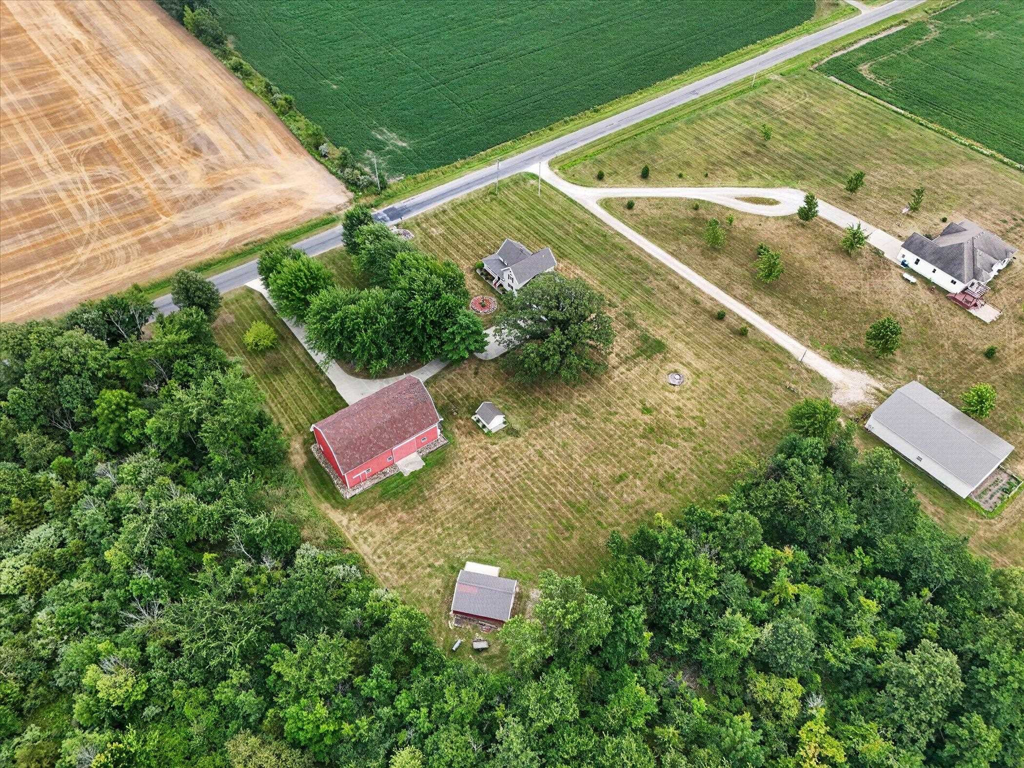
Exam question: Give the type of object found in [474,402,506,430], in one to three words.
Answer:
shed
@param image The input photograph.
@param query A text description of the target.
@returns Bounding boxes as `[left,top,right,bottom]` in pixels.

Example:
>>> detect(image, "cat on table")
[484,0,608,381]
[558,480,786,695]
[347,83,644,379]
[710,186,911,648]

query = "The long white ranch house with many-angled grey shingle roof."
[894,220,1017,292]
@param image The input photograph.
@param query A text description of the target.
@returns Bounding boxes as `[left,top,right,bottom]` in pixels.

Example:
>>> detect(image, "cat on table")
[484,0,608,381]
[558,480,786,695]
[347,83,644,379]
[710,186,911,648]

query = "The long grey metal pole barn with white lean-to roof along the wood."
[860,381,1015,501]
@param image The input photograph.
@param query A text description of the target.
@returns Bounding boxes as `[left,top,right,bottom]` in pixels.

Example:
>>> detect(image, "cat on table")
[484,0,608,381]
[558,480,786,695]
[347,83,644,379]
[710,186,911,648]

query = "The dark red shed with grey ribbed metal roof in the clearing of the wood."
[452,570,518,625]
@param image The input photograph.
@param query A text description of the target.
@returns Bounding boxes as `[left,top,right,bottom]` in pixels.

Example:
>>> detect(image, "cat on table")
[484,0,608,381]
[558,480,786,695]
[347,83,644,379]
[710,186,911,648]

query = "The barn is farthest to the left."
[311,375,440,489]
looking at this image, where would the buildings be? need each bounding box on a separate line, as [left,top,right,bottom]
[311,375,440,489]
[484,238,558,296]
[894,220,1017,292]
[452,570,518,625]
[860,381,1015,501]
[474,402,506,430]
